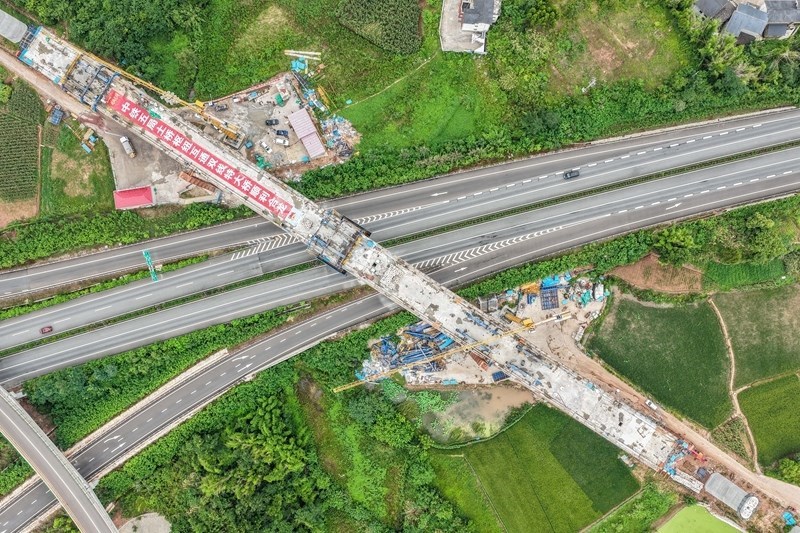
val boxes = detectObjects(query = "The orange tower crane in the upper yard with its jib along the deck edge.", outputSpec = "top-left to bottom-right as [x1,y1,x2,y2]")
[82,49,247,148]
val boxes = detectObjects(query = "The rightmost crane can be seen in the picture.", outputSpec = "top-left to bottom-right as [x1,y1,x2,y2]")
[333,303,576,393]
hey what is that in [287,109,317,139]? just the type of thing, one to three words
shed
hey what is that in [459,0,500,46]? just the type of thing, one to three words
house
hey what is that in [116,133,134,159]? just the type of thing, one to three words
vehicle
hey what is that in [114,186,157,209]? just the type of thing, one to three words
building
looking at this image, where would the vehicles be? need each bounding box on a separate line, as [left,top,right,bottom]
[259,140,272,153]
[645,399,660,411]
[38,327,52,334]
[116,133,134,159]
[264,118,279,126]
[273,138,288,145]
[564,169,580,178]
[213,103,227,111]
[275,129,289,135]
